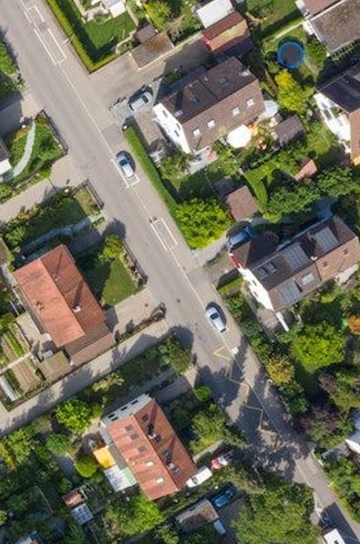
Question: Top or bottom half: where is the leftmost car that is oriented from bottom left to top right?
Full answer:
Seen from above, the leftmost car that is oriented from bottom left to top right lies in the top half of the view.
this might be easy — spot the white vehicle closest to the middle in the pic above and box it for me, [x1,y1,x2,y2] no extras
[203,303,226,333]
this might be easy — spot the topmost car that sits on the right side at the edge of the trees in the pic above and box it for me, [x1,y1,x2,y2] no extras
[225,226,253,249]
